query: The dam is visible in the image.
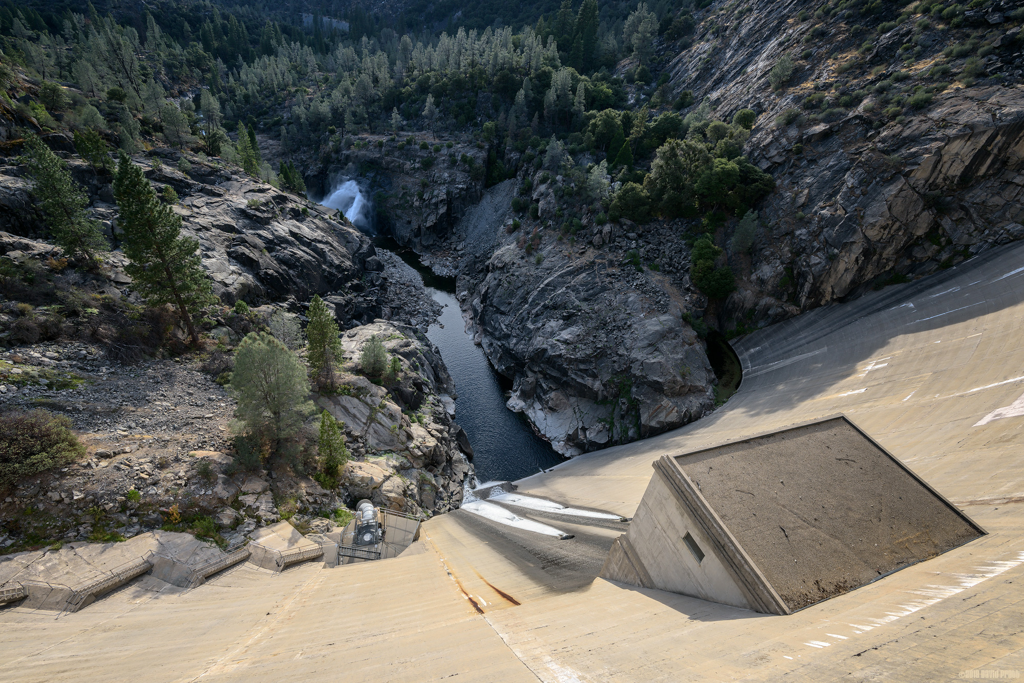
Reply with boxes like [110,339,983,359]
[0,236,1024,683]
